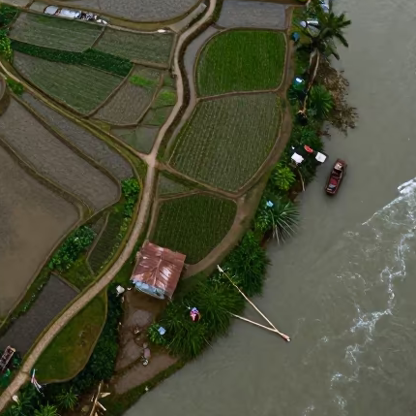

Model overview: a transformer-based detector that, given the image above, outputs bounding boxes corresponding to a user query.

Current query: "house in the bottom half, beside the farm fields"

[125,242,188,309]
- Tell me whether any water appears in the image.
Yes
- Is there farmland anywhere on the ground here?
Yes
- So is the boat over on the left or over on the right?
right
